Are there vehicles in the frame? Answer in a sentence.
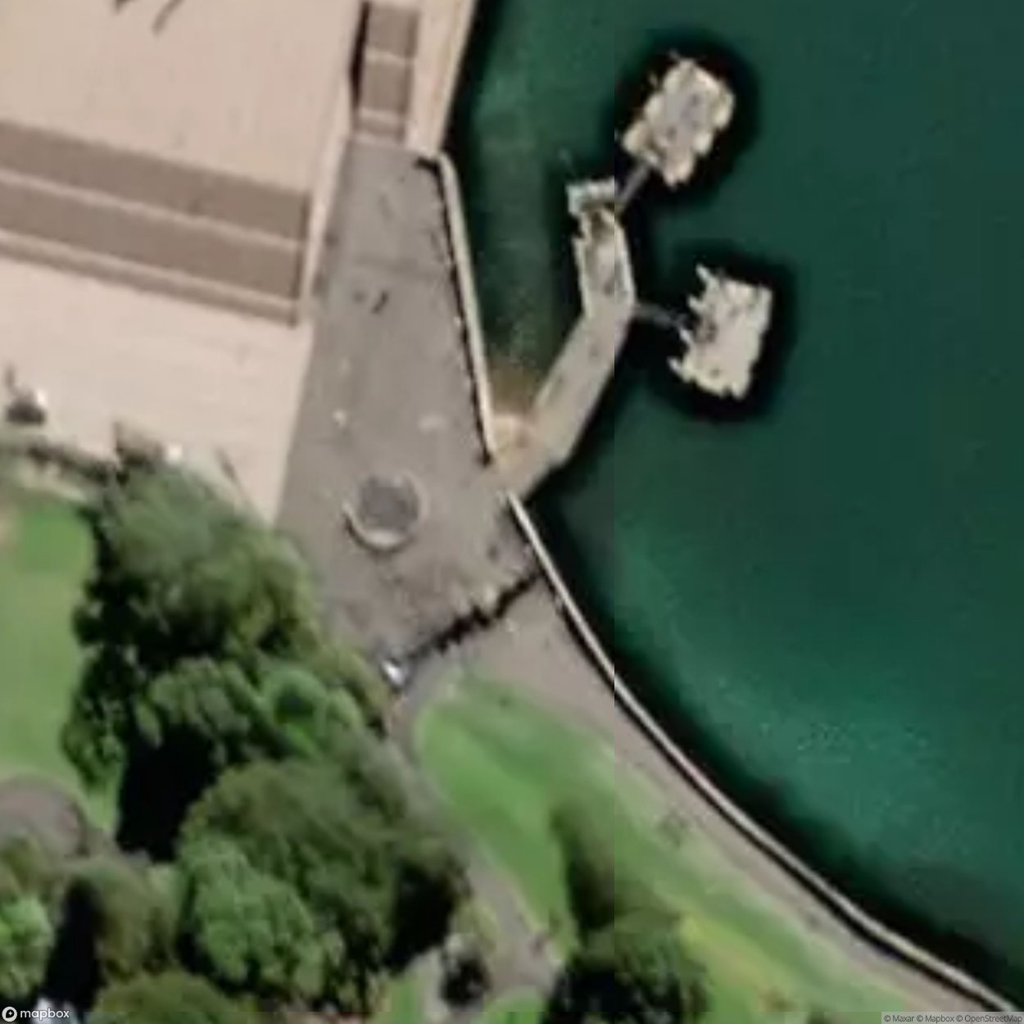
Yes, the frame does contain a vehicle.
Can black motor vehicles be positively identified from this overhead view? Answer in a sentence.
No, no black motor vehicle can be seen from above.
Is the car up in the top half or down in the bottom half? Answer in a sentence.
The bottom half of the photo is where the car is.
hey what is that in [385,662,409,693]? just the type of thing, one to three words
car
